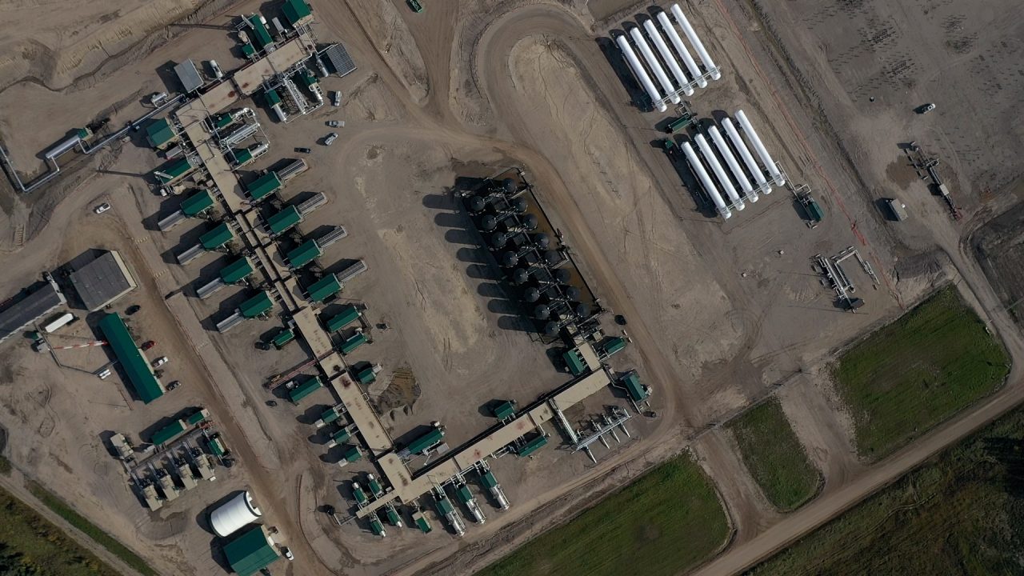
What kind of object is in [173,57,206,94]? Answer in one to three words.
shed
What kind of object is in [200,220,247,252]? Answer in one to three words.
building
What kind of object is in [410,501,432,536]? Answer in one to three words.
shed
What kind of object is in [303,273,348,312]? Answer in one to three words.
building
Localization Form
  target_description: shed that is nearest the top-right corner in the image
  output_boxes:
[796,192,824,226]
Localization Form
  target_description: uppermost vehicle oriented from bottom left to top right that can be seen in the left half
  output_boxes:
[323,132,338,146]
